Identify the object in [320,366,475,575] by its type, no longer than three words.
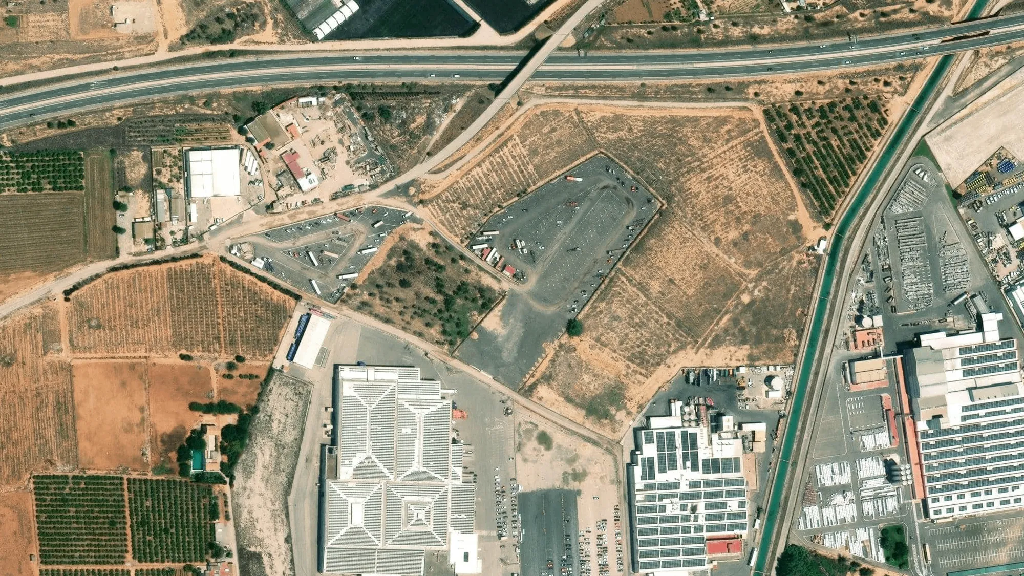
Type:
building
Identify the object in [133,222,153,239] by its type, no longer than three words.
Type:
barn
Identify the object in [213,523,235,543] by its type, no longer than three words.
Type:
house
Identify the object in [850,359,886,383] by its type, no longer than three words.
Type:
building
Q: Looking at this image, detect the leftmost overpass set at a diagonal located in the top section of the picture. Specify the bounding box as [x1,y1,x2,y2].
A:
[383,0,603,194]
